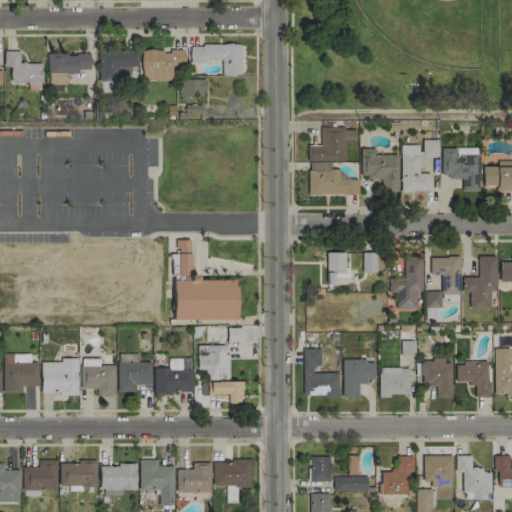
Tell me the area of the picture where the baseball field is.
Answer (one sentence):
The baseball field is in the top right part of the image.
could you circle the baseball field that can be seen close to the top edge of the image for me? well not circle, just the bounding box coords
[357,0,482,70]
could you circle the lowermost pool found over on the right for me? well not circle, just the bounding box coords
[361,451,374,474]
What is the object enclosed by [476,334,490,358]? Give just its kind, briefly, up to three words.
swimming pool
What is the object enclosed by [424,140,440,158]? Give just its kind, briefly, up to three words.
building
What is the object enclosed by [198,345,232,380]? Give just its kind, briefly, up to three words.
house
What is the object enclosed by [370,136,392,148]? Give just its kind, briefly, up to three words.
swimming pool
